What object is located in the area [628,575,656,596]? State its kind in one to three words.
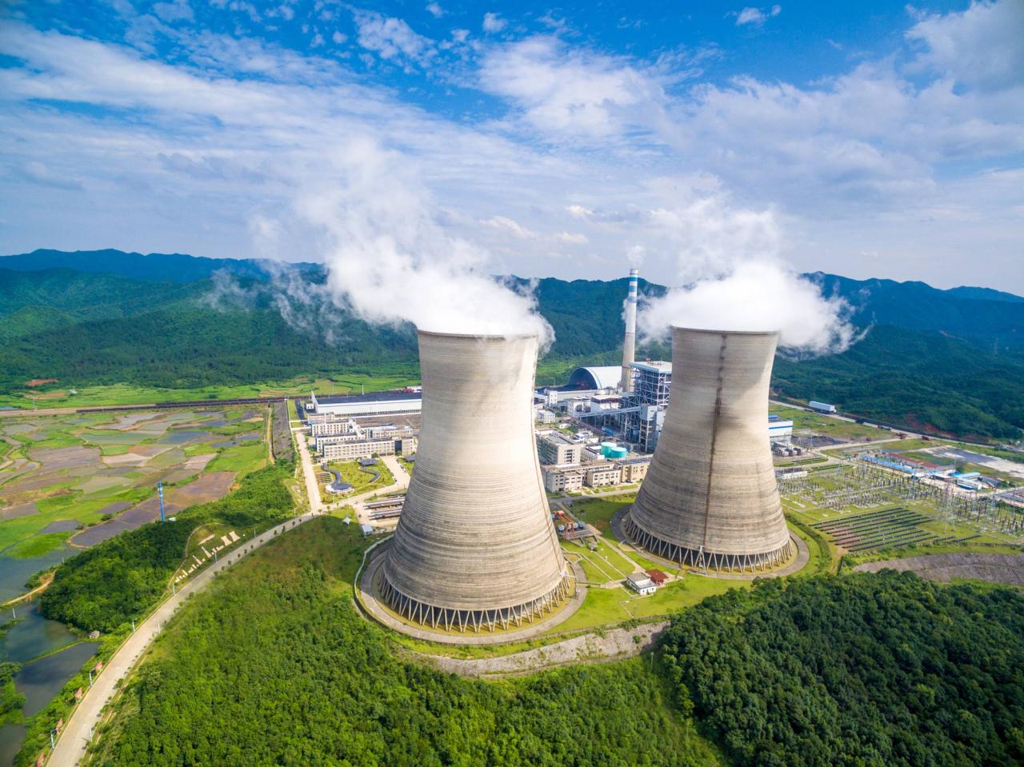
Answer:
house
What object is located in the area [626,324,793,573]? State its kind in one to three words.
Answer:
cooling tower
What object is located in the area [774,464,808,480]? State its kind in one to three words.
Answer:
shed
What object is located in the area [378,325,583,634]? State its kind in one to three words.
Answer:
cooling tower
